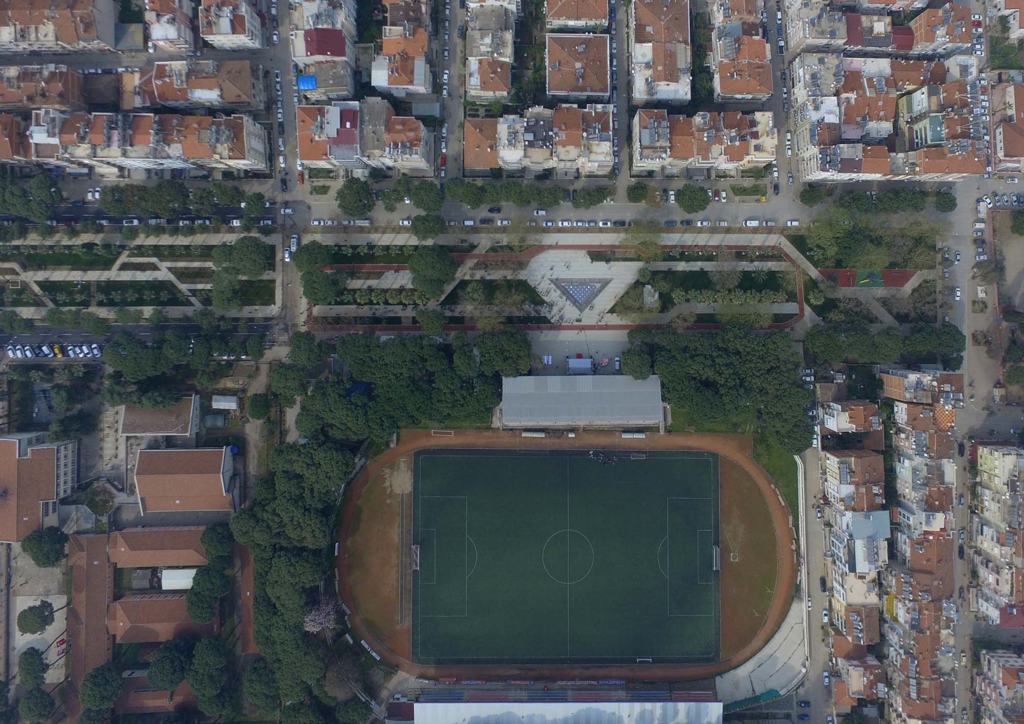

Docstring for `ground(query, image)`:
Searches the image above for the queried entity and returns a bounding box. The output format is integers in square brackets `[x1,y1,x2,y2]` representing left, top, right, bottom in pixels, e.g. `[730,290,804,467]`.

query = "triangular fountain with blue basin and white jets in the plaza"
[549,278,613,313]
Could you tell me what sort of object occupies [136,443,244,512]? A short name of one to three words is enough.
building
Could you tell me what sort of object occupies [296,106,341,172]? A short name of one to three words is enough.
house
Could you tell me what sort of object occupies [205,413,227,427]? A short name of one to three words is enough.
shed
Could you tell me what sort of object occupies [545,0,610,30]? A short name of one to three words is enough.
house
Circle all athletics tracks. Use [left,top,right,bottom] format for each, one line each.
[336,431,797,680]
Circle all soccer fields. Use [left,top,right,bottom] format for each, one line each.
[413,450,719,664]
